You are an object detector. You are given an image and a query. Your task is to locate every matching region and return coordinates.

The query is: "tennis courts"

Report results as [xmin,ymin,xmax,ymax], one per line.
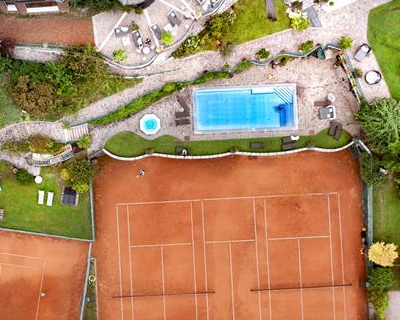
[0,229,92,320]
[94,153,211,320]
[251,144,368,320]
[199,155,260,320]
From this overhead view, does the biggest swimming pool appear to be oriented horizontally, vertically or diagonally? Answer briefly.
horizontally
